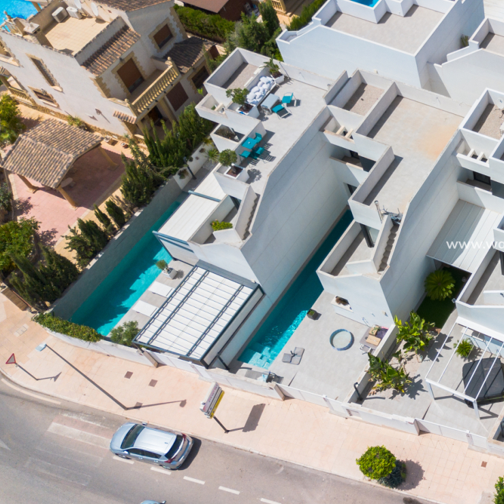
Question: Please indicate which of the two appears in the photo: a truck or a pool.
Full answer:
Of the two, only a pool appears.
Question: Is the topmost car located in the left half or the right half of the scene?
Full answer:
The topmost car sits on the left side.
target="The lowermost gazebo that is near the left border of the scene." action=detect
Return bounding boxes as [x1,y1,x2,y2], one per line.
[0,116,119,209]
